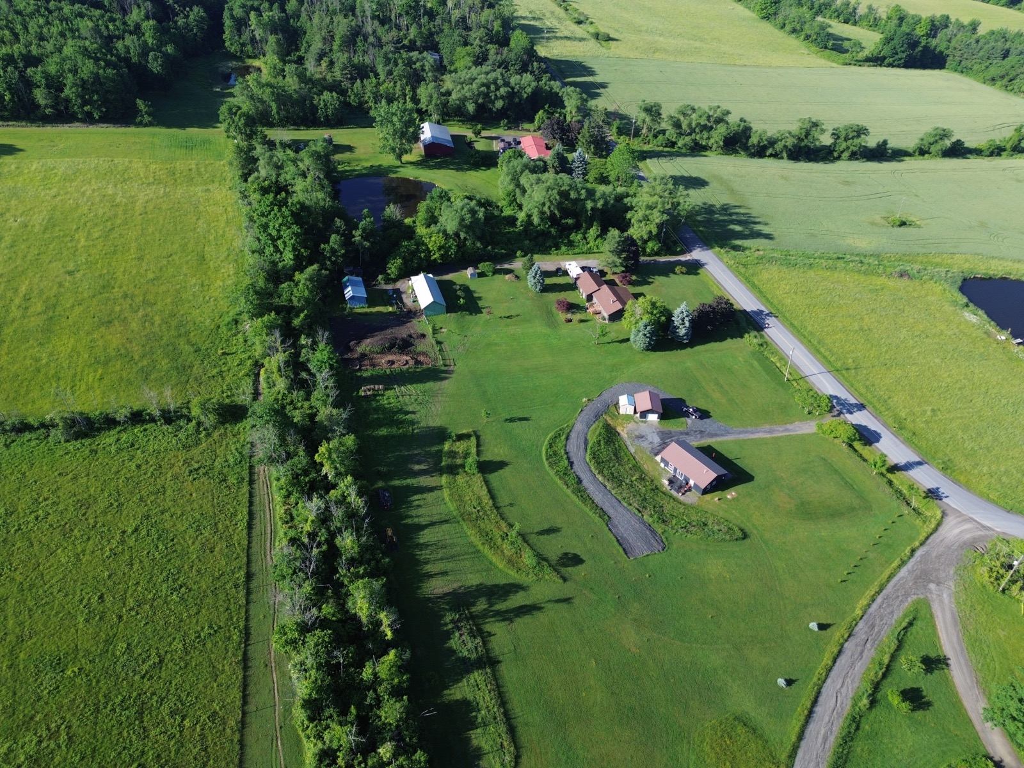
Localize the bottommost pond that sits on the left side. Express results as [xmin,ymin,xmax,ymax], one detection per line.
[339,176,436,228]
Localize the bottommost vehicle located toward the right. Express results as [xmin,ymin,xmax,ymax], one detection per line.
[681,408,706,421]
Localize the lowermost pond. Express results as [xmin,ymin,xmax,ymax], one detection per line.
[959,277,1024,343]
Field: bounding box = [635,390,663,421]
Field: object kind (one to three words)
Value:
building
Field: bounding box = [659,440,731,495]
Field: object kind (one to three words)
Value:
house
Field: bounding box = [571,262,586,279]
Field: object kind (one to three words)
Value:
vehicle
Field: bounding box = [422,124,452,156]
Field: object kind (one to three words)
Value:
barn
